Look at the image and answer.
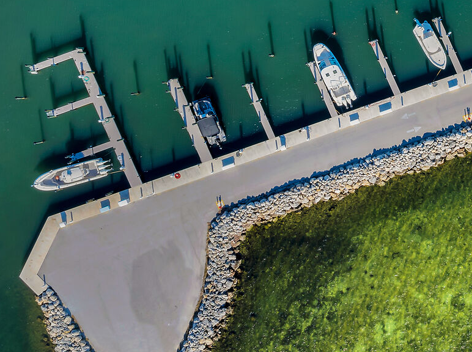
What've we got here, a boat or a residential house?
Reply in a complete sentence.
There is a boat in the scene.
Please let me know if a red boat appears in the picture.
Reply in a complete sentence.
No, there isn't any red boat down there.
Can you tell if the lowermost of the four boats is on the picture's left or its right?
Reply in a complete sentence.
The lowermost of the four boats appears in the left half of the scene.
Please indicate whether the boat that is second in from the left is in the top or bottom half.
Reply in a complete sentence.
It is in the top half that the boat that is second in from the left appears.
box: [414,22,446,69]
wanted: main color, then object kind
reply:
white boat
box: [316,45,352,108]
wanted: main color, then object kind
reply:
white boat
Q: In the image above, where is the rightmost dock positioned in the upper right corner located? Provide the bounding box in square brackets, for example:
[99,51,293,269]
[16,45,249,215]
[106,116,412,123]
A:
[431,16,463,73]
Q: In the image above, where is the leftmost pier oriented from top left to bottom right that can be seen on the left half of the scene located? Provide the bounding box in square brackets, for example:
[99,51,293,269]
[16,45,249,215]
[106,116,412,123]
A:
[25,47,142,188]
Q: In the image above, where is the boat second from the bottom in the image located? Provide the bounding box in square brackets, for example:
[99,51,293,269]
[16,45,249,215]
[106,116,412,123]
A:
[196,99,226,146]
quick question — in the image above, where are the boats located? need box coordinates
[414,22,446,69]
[196,99,226,146]
[316,45,352,108]
[30,161,110,191]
